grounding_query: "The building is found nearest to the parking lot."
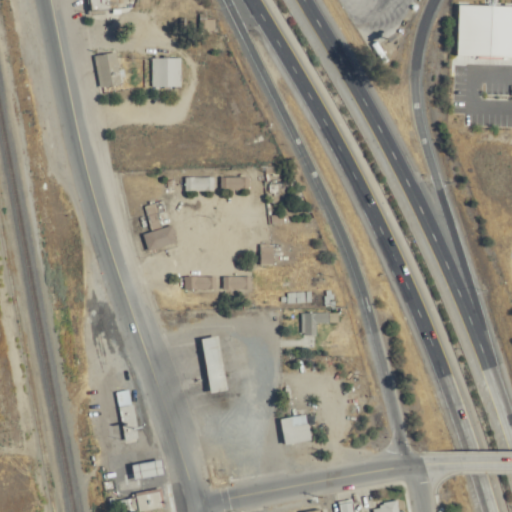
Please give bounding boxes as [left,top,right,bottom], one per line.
[458,4,512,56]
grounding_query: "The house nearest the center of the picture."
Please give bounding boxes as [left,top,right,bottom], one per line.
[260,244,274,266]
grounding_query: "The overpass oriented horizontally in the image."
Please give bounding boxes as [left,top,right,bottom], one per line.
[424,450,512,474]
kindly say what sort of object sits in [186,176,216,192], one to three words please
house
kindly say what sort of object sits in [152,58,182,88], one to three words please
barn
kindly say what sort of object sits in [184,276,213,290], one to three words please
house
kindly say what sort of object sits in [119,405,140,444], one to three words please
building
